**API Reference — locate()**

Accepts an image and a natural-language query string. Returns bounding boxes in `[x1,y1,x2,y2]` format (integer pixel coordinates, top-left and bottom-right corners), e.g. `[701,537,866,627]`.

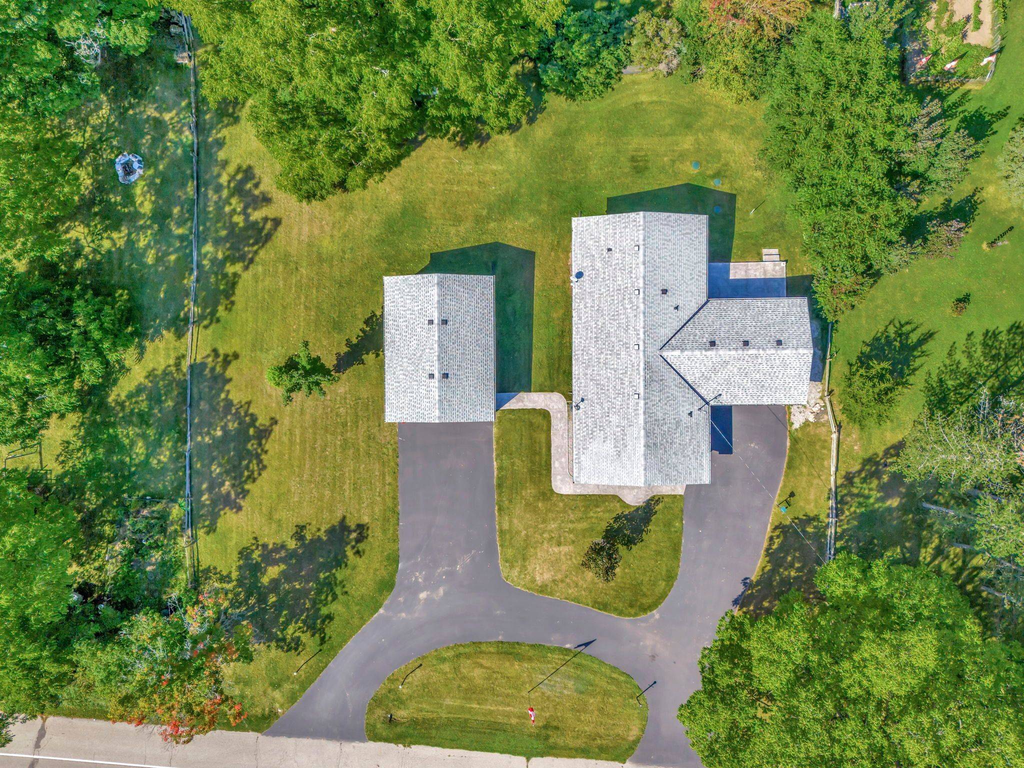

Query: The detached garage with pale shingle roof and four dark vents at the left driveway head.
[382,273,496,423]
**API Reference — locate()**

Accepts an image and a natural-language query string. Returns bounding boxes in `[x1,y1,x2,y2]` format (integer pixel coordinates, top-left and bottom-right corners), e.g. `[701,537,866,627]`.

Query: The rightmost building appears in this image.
[568,211,814,487]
